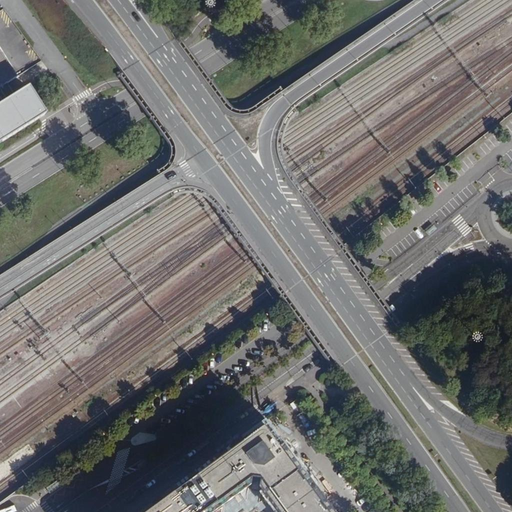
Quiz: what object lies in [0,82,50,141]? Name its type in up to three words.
building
